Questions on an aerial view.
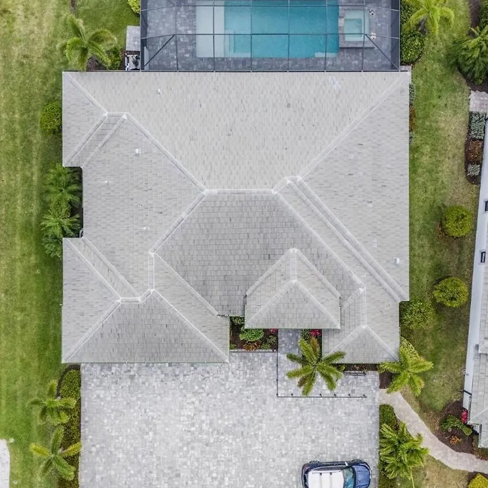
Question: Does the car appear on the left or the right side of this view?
right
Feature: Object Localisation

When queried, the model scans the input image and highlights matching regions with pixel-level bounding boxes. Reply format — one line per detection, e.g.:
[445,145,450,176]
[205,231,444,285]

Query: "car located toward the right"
[302,457,372,488]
